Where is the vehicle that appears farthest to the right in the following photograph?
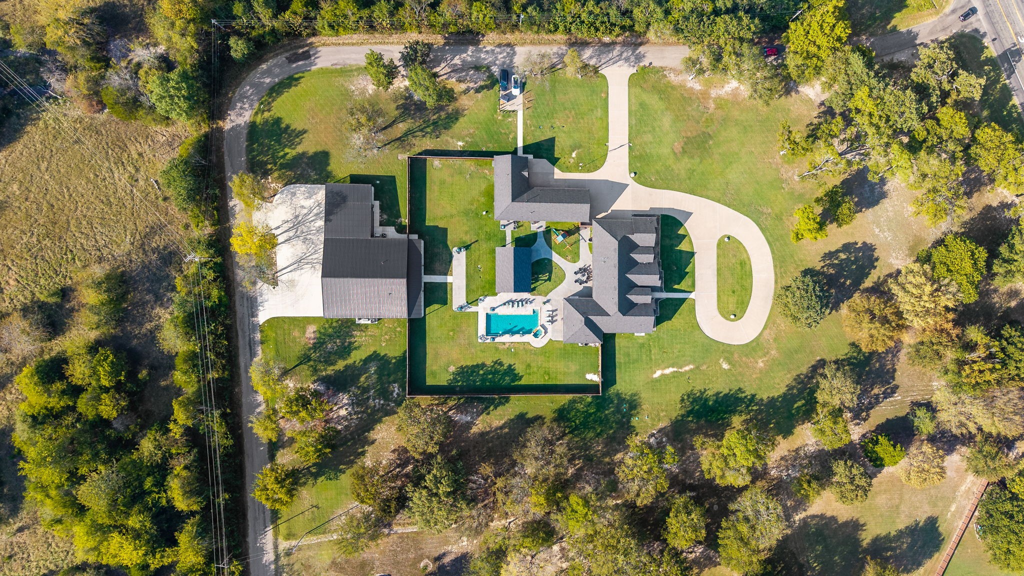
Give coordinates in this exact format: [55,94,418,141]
[957,6,978,24]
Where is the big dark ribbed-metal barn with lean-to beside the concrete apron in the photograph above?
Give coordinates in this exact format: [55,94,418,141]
[321,184,424,318]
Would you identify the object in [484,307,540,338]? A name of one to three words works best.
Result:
swimming pool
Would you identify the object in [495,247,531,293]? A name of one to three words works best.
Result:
building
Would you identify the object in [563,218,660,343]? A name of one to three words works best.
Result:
house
